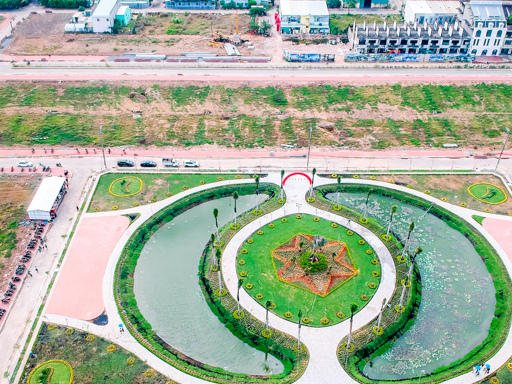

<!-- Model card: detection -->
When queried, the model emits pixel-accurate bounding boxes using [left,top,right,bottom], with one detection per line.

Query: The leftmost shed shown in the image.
[23,168,73,221]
